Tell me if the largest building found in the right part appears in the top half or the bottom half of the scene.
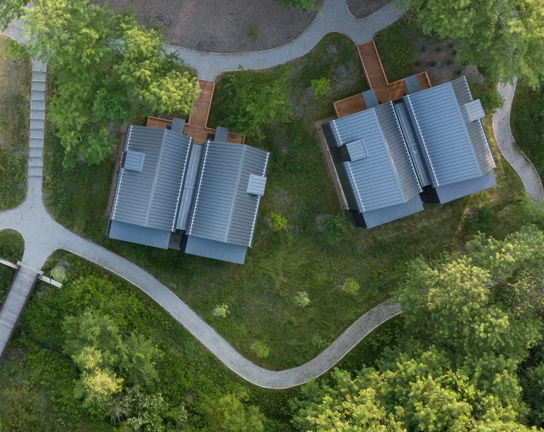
top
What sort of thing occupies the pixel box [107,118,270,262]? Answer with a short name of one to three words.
building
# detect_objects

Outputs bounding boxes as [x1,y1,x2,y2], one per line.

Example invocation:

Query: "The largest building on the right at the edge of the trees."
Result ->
[316,74,498,228]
